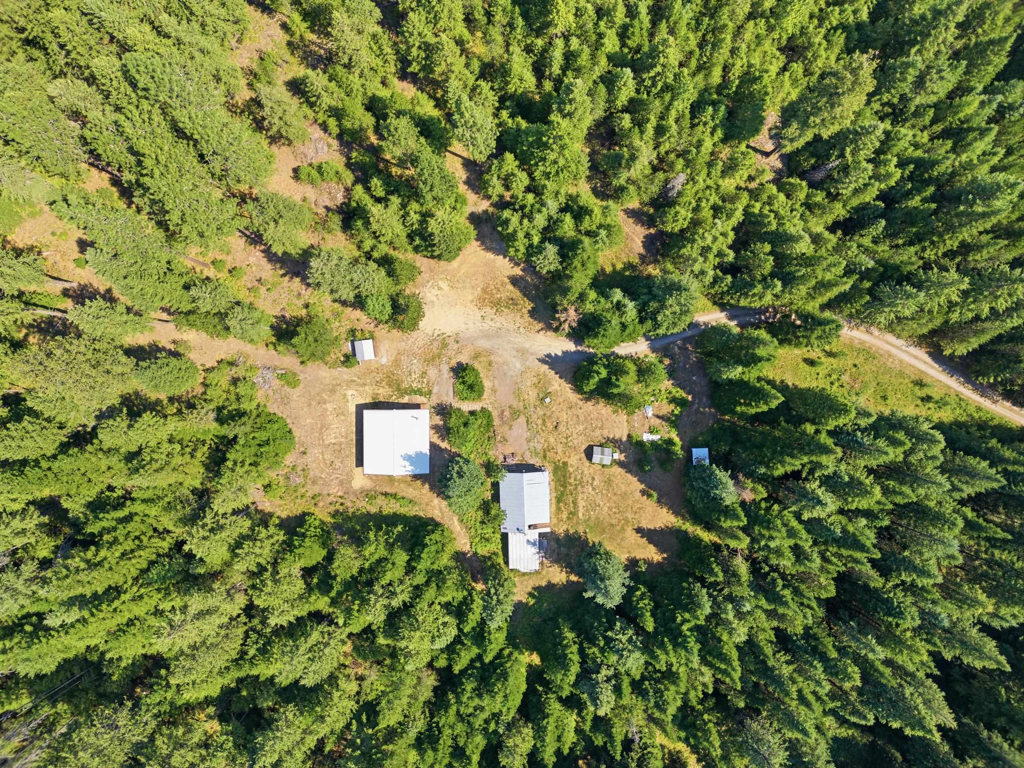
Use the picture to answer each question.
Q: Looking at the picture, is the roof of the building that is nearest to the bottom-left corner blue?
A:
No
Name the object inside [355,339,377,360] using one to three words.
shed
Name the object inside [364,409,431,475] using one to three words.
building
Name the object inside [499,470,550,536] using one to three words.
house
